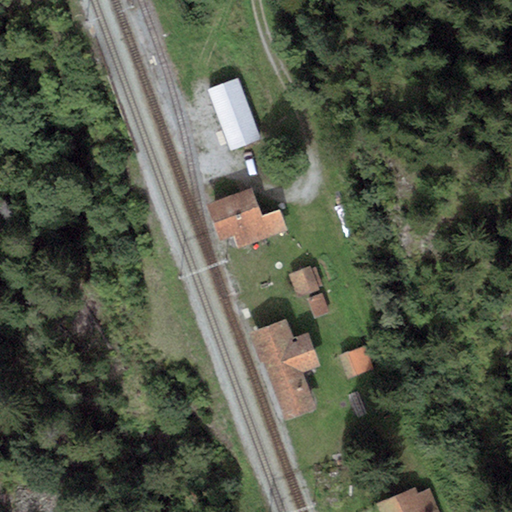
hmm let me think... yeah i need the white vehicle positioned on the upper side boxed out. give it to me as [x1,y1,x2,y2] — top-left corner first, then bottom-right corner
[245,149,258,176]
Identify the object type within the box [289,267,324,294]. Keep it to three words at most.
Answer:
barn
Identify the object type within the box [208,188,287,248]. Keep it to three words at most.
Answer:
house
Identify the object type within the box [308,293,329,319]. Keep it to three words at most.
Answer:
shed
